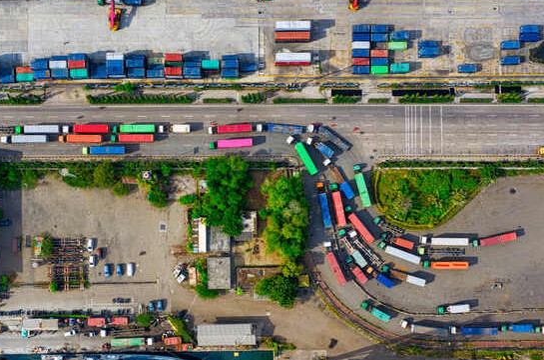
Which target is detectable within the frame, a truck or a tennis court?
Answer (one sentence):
Looking from above, you can make out a truck.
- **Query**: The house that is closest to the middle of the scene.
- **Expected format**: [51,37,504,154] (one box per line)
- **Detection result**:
[241,211,256,233]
